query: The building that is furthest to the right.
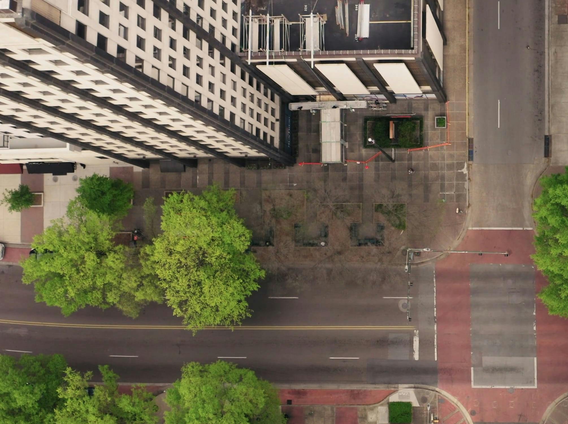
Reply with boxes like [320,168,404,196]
[236,0,441,96]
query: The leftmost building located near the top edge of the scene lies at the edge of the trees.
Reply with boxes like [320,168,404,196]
[0,0,296,167]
